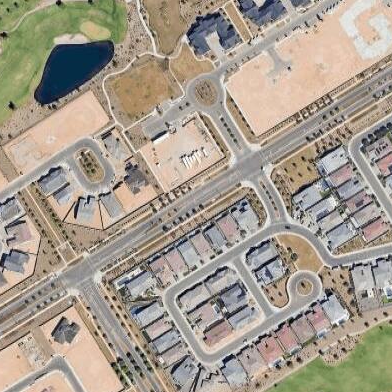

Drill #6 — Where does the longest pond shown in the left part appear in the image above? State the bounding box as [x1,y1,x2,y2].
[35,40,113,104]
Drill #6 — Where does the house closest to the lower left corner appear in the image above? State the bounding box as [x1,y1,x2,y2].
[42,314,82,353]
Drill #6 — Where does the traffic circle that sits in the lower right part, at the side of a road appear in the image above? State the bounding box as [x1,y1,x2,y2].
[286,271,322,306]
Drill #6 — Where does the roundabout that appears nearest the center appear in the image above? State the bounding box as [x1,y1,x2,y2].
[184,70,227,113]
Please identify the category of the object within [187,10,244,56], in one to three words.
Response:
building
